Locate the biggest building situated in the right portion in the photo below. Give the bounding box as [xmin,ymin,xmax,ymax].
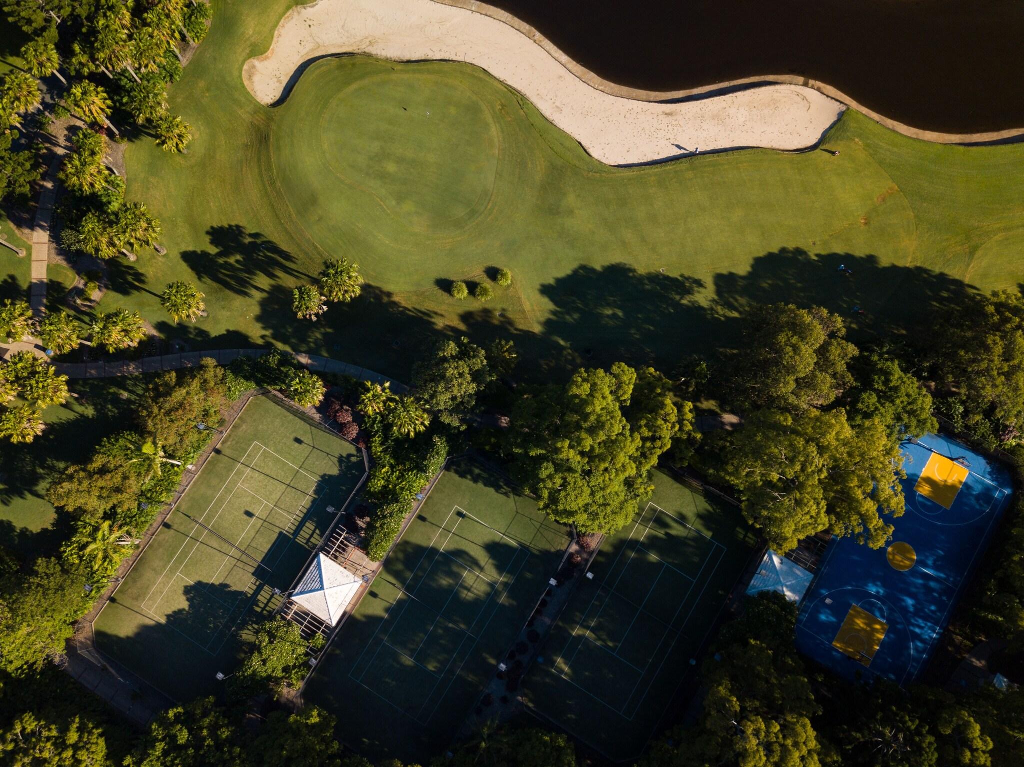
[742,549,815,608]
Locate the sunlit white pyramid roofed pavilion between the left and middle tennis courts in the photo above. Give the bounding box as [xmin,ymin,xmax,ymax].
[289,552,363,627]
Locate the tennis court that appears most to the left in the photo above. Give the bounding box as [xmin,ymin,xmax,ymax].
[92,391,368,706]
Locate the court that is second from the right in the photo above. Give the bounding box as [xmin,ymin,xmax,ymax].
[521,468,756,764]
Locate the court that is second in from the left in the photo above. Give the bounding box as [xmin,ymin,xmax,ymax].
[301,456,577,767]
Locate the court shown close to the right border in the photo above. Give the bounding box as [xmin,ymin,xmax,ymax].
[798,424,1015,703]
